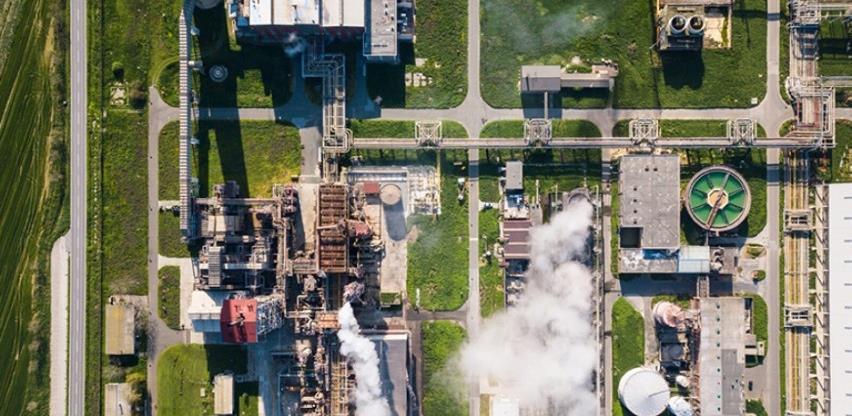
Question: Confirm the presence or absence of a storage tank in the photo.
Yes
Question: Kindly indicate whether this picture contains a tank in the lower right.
Yes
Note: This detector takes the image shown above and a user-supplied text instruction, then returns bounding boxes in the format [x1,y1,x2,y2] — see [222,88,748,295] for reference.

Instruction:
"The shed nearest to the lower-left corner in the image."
[105,382,133,416]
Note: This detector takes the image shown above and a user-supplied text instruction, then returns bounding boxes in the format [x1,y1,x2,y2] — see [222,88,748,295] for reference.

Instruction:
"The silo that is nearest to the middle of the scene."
[380,184,403,206]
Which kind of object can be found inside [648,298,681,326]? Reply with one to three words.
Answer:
storage tank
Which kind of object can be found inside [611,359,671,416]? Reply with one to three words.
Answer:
storage tank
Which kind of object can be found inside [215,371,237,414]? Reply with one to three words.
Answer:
shed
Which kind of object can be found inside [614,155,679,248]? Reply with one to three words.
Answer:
building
